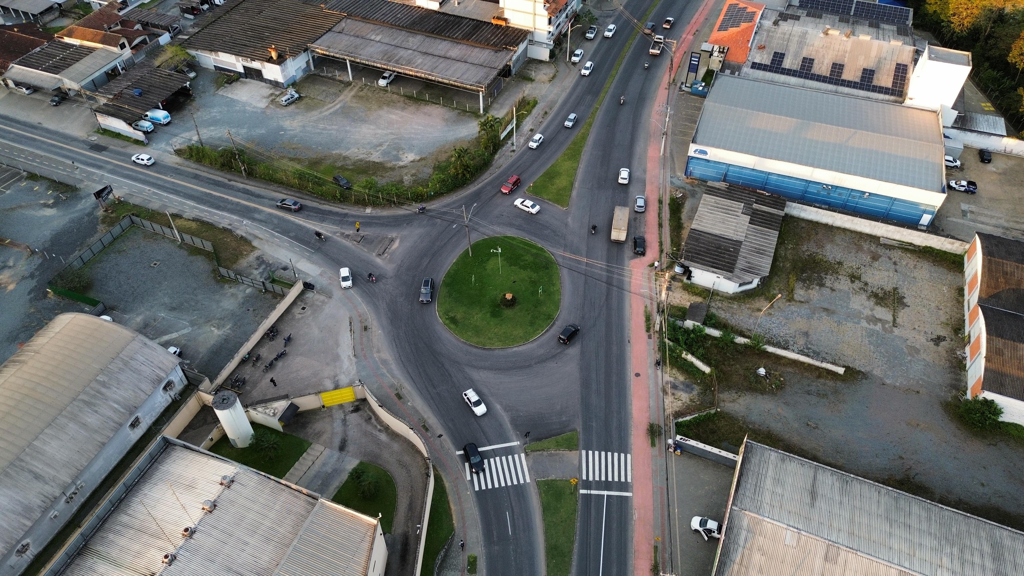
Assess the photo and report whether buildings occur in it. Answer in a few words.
Yes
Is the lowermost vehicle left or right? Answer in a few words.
right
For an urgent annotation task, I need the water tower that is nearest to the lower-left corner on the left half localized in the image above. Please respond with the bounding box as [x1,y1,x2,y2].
[195,380,253,451]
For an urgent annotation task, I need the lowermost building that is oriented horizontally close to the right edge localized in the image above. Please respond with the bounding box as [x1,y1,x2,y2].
[703,431,1024,576]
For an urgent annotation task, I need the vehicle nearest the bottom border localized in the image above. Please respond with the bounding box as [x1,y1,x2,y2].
[690,516,718,543]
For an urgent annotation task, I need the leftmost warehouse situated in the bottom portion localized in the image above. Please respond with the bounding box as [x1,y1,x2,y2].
[0,313,189,576]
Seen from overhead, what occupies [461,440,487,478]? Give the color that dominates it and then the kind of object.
black car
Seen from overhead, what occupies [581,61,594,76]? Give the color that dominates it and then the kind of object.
white vehicle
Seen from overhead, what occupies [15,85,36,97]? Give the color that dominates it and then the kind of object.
gray vehicle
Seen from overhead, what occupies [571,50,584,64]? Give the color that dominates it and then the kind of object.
white vehicle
